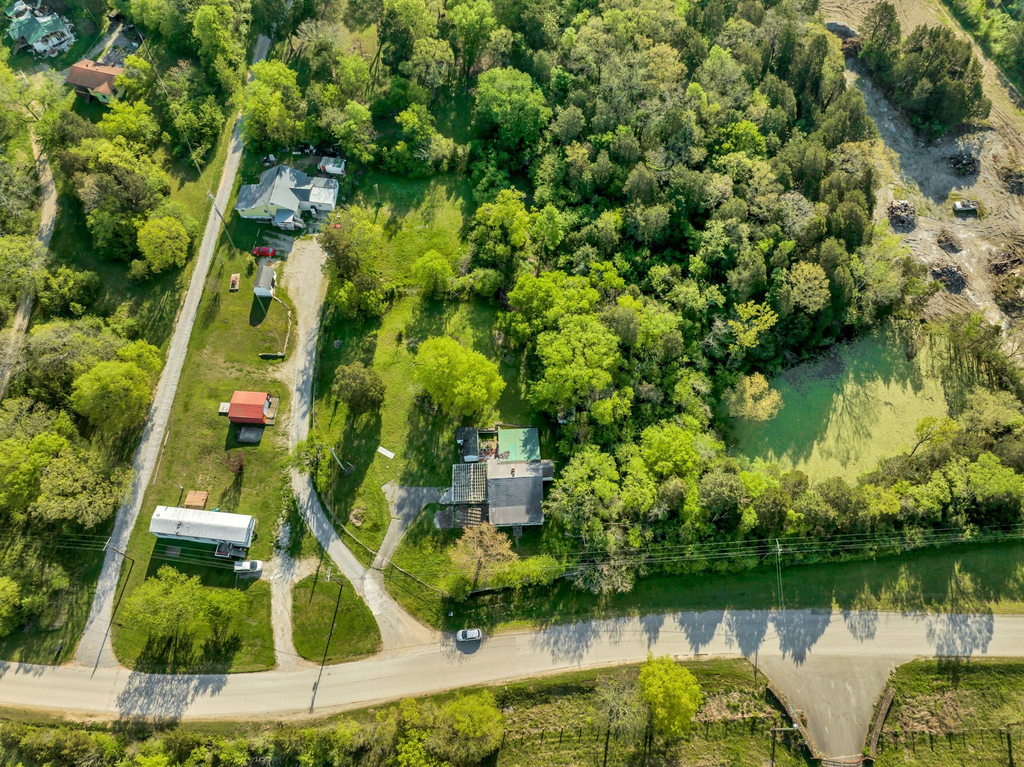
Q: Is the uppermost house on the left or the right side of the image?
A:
left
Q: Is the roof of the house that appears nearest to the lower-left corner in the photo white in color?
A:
Yes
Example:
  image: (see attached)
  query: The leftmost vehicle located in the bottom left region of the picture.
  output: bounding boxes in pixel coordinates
[234,560,264,573]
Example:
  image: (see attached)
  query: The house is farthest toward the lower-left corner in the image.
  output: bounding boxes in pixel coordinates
[148,505,258,559]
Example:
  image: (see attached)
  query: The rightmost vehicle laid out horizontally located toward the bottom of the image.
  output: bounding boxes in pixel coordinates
[456,628,482,642]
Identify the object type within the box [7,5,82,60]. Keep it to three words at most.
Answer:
house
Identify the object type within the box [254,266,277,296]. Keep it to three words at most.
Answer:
shed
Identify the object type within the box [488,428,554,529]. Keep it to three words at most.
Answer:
house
